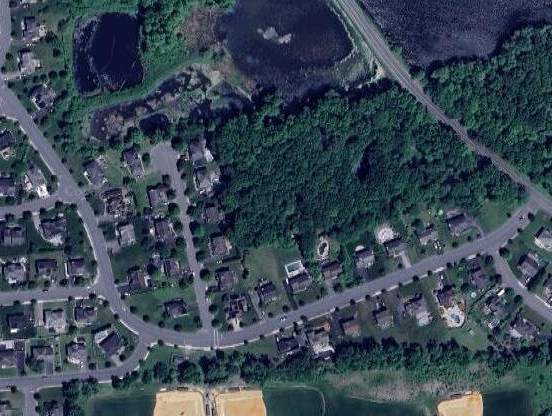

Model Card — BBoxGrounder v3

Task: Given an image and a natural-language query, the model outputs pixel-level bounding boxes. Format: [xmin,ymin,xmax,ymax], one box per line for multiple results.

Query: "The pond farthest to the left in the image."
[72,12,142,95]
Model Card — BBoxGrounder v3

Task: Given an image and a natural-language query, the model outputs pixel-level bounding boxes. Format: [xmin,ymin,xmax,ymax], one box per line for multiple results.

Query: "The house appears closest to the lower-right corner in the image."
[509,317,539,343]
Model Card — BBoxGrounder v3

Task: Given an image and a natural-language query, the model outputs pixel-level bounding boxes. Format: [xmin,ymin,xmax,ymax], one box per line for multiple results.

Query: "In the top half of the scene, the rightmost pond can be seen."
[217,0,357,99]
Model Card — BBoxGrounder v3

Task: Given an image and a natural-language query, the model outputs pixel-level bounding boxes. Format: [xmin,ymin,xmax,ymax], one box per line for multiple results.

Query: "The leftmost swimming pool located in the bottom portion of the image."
[284,260,303,275]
